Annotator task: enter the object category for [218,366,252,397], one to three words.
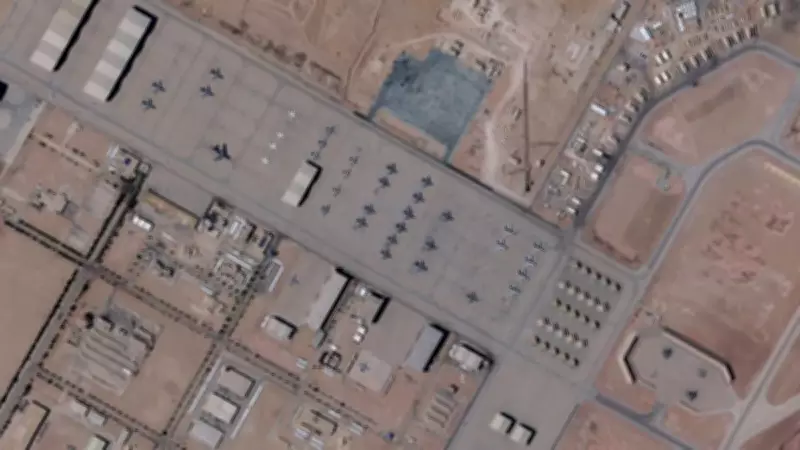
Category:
building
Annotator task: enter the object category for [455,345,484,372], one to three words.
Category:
building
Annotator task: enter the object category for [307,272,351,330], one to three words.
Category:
hangar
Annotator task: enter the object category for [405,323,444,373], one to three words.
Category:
hangar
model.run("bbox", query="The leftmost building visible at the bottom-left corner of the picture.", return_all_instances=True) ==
[3,402,49,450]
